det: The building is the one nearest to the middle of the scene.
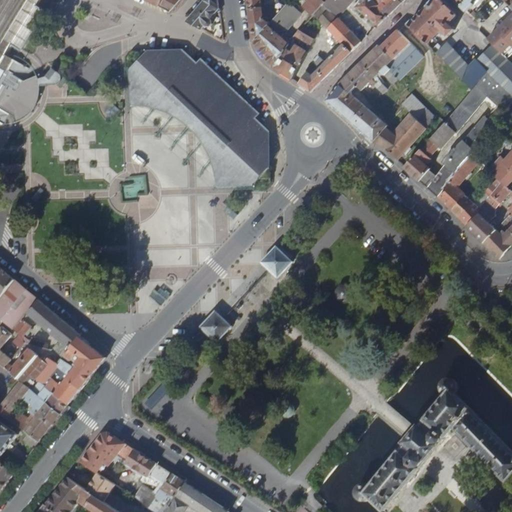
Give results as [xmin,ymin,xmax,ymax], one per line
[260,246,292,278]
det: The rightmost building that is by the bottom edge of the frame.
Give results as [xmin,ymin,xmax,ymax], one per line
[350,380,512,510]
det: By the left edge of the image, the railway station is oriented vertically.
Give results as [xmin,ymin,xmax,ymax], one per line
[0,0,60,126]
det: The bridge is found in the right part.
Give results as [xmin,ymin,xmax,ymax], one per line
[374,400,412,438]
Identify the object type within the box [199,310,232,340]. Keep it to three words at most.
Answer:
building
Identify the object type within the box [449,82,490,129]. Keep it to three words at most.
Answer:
building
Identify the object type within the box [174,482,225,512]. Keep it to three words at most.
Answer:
house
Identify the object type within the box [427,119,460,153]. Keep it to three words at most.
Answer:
house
